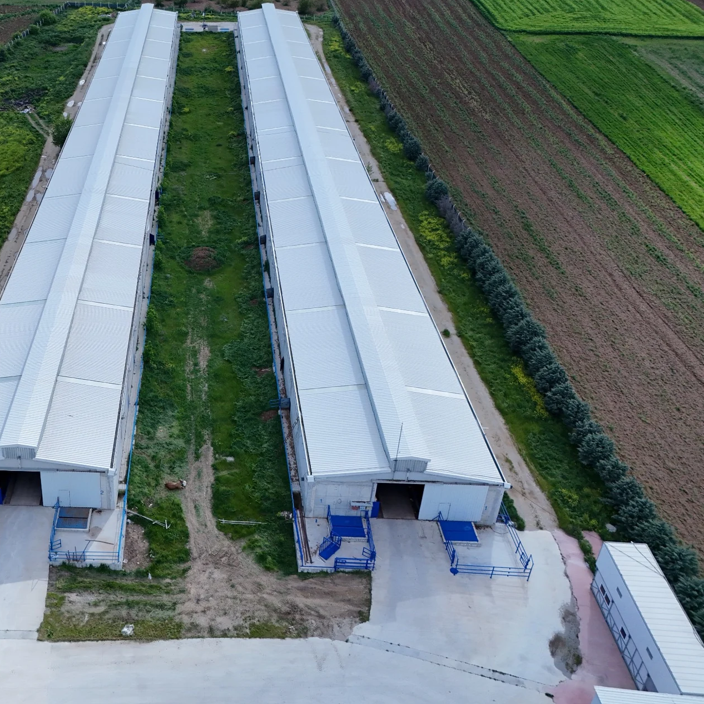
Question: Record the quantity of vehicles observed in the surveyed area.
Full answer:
The picture shows no vehicles.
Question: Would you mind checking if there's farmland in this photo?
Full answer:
Yes, the picture does contain farmland.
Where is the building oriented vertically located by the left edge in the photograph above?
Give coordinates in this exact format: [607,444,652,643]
[0,3,178,512]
